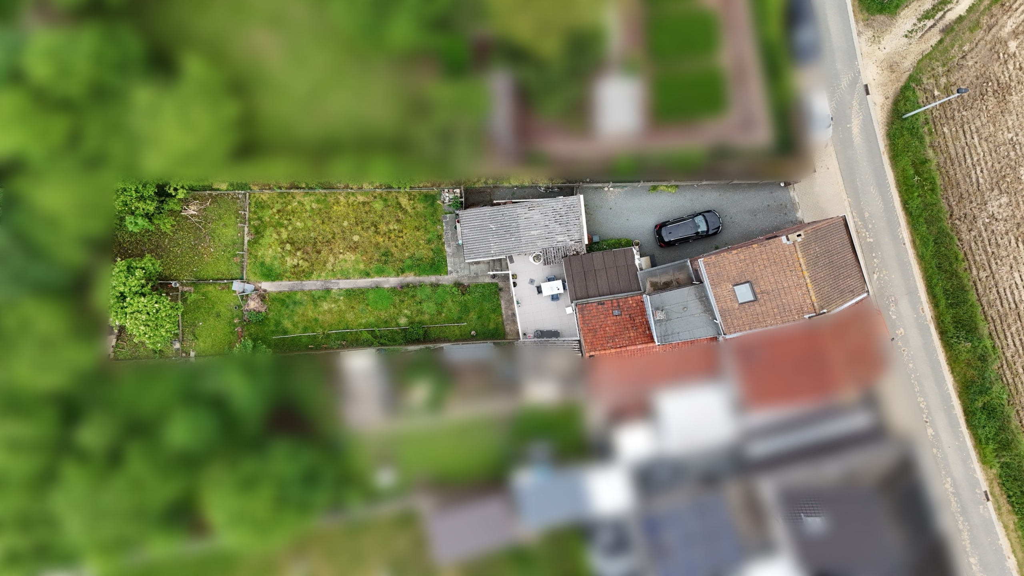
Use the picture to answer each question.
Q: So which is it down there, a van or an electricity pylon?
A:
van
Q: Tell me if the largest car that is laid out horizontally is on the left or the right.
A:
right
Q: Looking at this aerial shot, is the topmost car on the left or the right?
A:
right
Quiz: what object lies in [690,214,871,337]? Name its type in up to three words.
house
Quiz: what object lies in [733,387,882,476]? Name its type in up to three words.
house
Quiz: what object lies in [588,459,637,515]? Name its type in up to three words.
building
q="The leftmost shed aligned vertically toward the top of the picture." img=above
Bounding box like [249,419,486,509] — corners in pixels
[493,71,514,169]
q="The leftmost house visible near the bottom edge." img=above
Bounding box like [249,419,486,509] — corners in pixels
[428,482,518,562]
